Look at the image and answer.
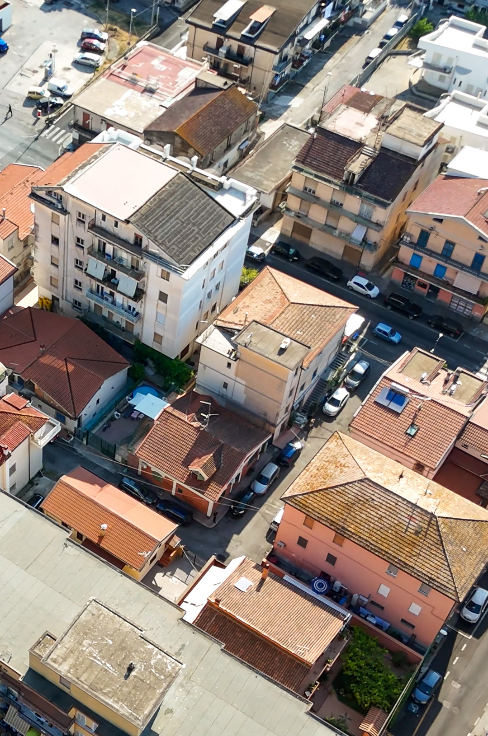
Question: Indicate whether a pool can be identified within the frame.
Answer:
Yes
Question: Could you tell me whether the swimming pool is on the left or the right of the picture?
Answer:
left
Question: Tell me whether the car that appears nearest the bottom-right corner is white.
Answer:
No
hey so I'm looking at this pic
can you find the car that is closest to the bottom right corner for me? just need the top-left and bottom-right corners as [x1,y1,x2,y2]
[409,663,445,708]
